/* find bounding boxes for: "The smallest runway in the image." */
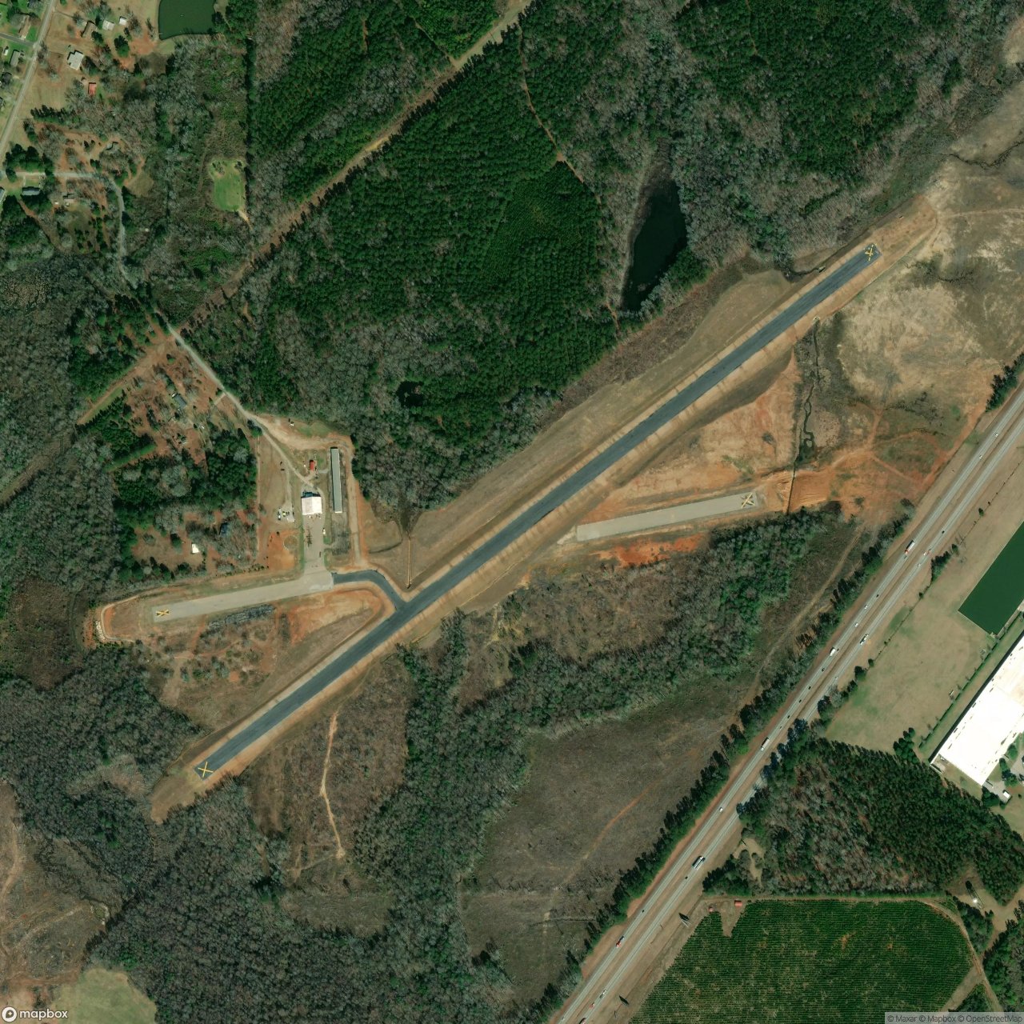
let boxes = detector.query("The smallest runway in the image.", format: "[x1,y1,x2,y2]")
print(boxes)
[152,587,264,622]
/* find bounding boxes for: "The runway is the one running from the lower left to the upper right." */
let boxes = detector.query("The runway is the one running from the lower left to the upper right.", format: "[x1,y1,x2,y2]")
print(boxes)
[194,245,880,780]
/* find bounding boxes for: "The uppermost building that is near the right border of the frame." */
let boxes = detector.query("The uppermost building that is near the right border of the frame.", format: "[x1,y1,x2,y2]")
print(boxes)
[930,642,1024,789]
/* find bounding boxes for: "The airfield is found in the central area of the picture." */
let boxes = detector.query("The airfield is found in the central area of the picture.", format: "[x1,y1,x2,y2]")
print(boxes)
[152,244,880,780]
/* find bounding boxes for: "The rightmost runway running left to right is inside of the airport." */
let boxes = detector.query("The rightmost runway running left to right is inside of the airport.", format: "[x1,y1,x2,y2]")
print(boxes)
[577,492,757,541]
